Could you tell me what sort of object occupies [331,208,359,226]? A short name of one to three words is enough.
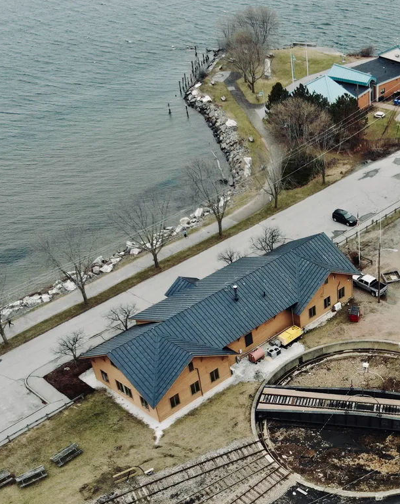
car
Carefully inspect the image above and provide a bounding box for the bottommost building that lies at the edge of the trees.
[85,235,361,422]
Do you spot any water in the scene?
Yes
